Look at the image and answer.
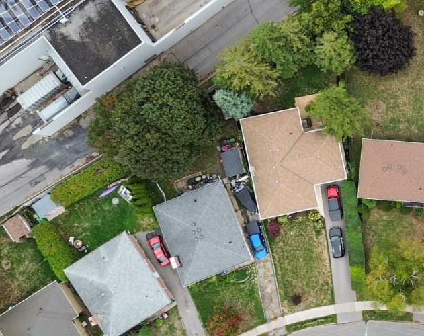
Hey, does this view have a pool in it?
No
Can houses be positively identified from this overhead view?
Yes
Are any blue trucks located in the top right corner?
No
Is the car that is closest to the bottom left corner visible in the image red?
Yes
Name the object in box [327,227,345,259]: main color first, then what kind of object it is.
gray car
